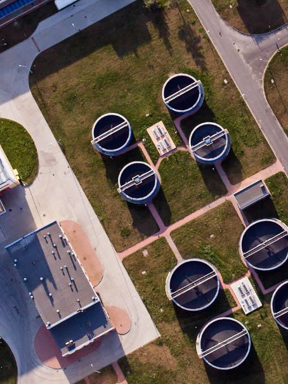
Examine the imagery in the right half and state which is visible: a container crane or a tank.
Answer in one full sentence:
The one visible in the right half is a tank.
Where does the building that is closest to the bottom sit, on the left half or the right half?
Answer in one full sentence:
The building that is closest to the bottom sits on the left side.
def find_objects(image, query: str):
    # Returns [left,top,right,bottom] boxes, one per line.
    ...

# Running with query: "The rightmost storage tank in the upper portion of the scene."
[189,122,231,164]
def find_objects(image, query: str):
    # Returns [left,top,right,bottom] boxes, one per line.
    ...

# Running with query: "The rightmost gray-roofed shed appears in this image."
[234,180,270,209]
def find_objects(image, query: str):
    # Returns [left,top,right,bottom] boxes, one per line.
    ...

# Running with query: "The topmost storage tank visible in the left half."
[90,113,133,155]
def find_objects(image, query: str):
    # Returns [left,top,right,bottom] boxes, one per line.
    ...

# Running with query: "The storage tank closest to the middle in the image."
[118,162,161,203]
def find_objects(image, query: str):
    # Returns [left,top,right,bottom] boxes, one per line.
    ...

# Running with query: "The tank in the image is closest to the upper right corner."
[163,74,205,115]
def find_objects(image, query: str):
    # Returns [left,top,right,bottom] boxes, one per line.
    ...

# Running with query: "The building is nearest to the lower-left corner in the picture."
[5,221,115,357]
